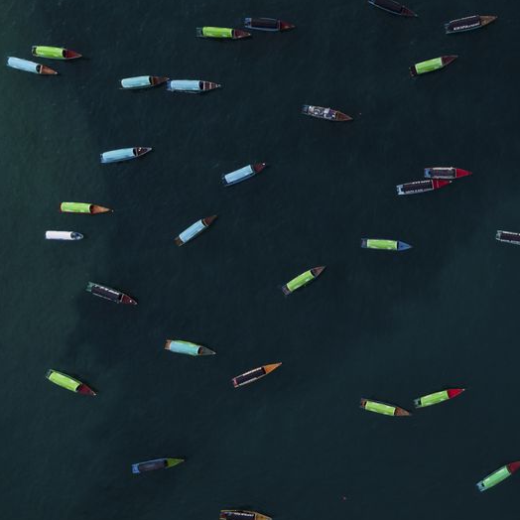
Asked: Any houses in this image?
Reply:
No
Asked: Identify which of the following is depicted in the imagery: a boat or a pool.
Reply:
boat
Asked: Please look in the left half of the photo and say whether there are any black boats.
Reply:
Yes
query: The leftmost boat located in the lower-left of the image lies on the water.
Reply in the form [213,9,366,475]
[46,369,97,395]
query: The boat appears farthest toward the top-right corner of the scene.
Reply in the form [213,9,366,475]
[444,16,498,34]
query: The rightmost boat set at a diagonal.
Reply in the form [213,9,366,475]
[475,462,520,493]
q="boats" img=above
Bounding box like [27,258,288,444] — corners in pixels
[475,462,520,493]
[165,79,220,92]
[118,75,170,88]
[46,230,83,240]
[423,167,472,178]
[281,265,327,295]
[99,147,153,163]
[46,369,97,395]
[359,398,411,416]
[162,340,216,356]
[414,388,465,409]
[243,17,295,30]
[496,230,520,244]
[396,179,452,194]
[130,458,185,474]
[302,104,354,121]
[5,56,58,75]
[220,163,266,186]
[410,55,459,76]
[30,46,82,59]
[360,238,413,251]
[218,511,272,520]
[194,26,251,38]
[231,363,282,388]
[84,282,137,304]
[58,203,113,214]
[444,16,498,34]
[174,215,218,248]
